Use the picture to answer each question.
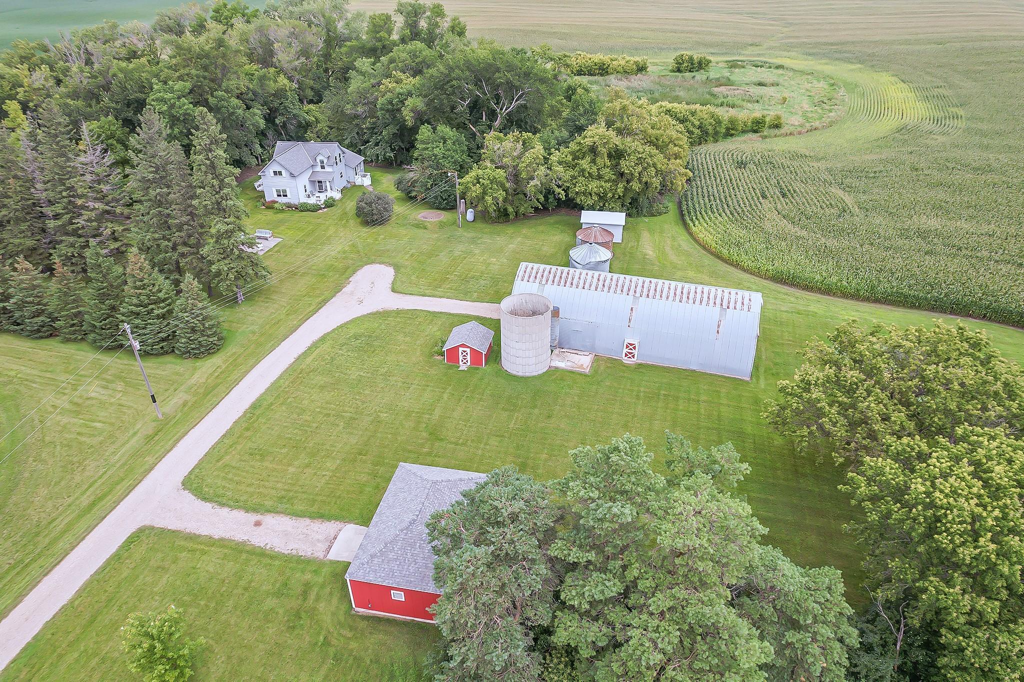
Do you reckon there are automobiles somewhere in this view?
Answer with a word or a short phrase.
No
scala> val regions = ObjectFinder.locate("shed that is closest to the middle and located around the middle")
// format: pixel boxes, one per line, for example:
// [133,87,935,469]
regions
[441,320,496,370]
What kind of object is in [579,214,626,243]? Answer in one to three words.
shed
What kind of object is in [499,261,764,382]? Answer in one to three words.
barn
